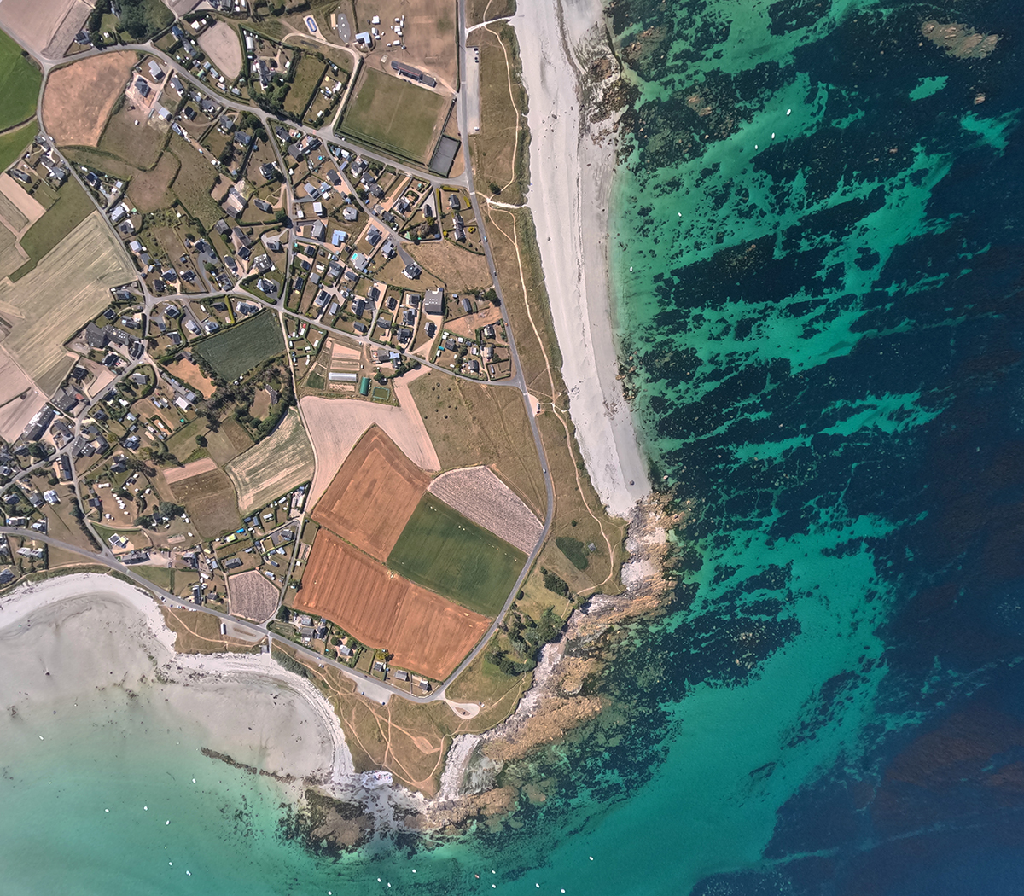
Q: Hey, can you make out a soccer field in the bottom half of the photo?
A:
No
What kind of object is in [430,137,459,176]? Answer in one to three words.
tennis court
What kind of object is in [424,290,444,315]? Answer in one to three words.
building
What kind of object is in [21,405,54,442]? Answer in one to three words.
barn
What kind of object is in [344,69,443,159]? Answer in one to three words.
soccer field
